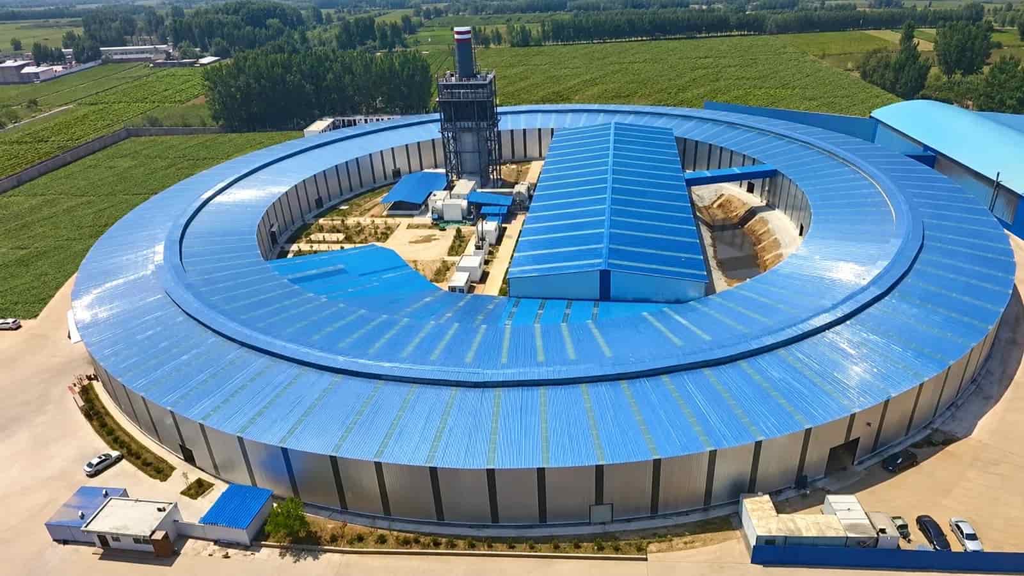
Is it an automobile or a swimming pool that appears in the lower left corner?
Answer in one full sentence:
You can see an automobile in the lower left corner.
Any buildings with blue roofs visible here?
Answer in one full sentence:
Yes, the picture does show a building with a blue roof.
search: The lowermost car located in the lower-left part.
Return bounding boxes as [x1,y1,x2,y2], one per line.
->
[82,451,123,474]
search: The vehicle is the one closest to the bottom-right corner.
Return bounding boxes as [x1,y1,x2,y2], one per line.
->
[954,513,992,549]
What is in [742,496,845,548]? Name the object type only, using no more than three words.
building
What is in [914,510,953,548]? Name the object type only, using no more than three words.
car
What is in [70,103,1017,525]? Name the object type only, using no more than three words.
building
